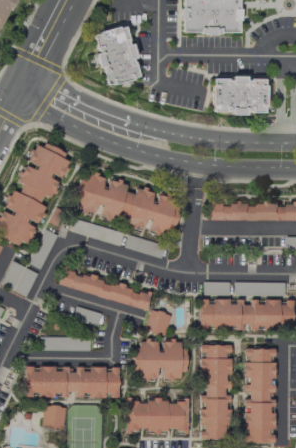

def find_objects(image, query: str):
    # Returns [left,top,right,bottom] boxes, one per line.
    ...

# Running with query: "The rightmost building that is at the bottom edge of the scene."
[244,348,278,444]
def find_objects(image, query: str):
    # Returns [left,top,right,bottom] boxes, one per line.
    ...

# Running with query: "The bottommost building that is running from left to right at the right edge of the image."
[202,298,296,331]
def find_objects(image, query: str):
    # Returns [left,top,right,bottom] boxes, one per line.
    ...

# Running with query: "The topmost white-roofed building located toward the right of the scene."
[183,0,246,34]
